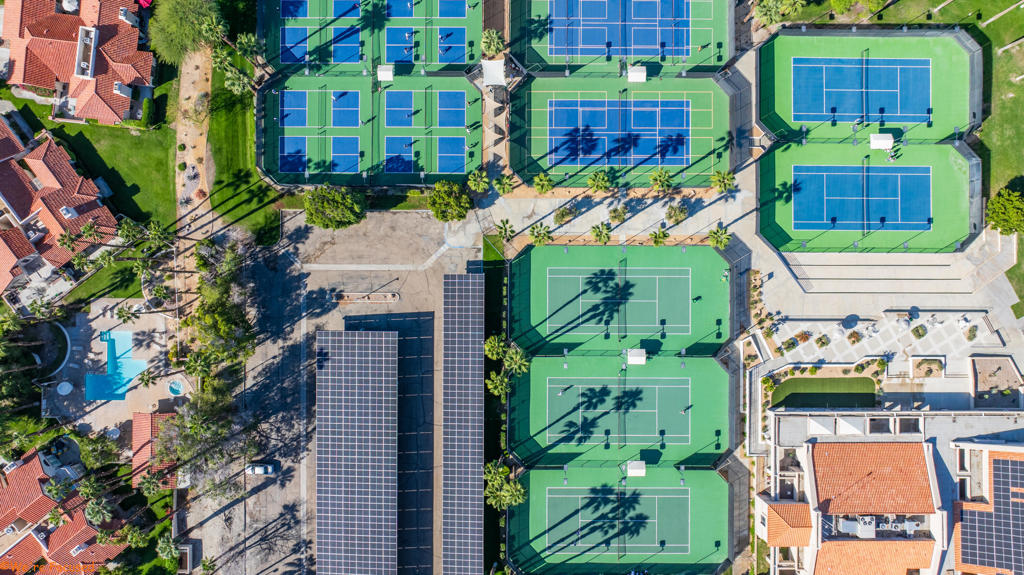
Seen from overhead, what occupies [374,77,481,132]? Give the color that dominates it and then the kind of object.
green sports court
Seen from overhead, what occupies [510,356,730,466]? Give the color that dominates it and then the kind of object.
green tennis court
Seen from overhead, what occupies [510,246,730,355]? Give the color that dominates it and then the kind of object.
green tennis court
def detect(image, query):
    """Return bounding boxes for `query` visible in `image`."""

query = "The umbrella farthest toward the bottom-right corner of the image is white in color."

[893,316,911,332]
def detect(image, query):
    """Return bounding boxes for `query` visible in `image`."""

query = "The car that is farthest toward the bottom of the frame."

[243,464,273,478]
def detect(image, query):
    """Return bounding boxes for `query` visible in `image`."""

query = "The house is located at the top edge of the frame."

[6,0,157,124]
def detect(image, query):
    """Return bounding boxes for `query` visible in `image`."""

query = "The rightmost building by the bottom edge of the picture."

[757,402,1024,575]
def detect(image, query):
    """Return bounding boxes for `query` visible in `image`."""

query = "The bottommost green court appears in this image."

[510,466,730,575]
